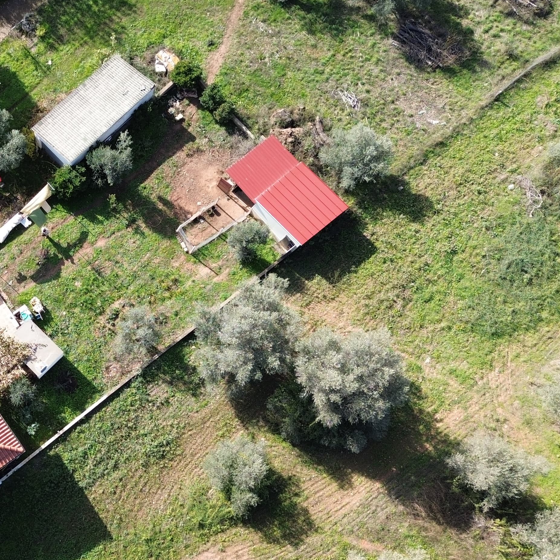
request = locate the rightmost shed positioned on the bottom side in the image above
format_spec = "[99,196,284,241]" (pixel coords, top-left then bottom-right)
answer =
[15,321,63,379]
